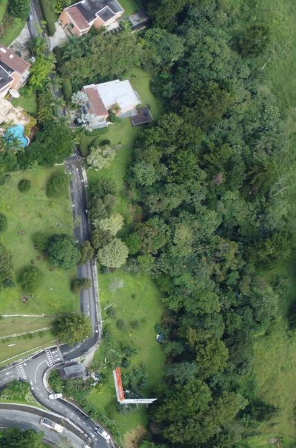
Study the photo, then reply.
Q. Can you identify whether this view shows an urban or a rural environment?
rural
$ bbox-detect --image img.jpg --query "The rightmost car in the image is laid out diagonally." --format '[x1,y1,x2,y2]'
[98,427,113,442]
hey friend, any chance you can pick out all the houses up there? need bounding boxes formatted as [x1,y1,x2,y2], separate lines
[58,0,125,40]
[75,79,143,128]
[0,45,32,100]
